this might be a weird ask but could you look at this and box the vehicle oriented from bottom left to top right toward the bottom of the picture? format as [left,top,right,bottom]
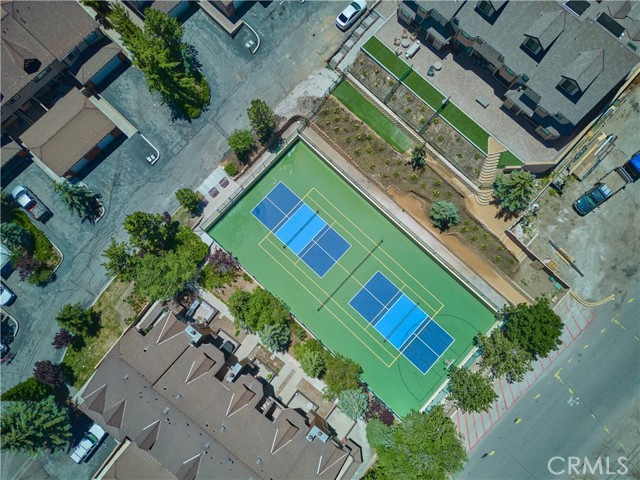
[64,420,109,469]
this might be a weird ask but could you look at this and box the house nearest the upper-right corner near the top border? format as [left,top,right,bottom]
[394,0,640,148]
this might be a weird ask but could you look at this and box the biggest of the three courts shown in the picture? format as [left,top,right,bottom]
[205,138,496,417]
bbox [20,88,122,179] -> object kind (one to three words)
building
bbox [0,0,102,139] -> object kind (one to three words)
house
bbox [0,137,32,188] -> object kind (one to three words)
building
